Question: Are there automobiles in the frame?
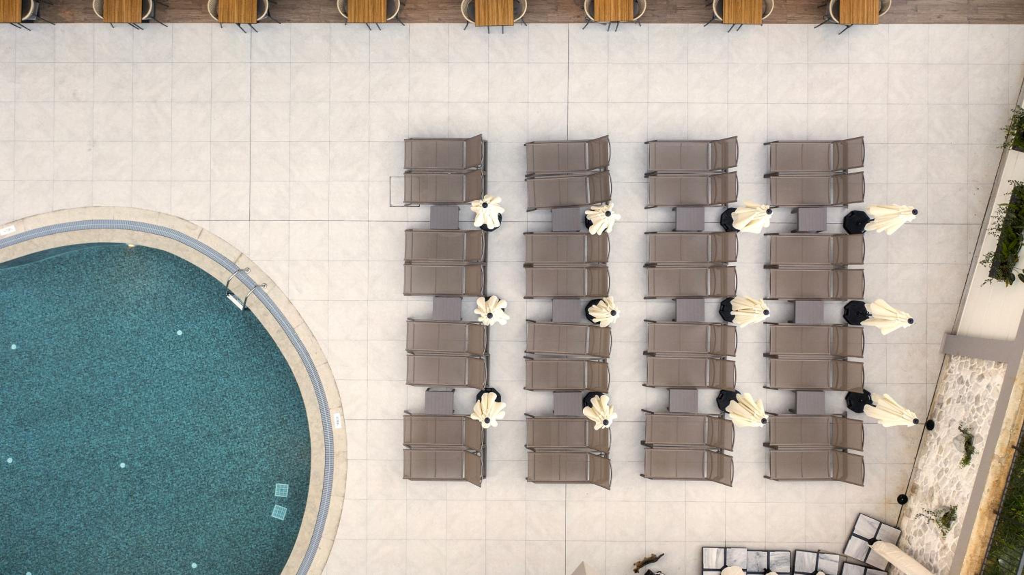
No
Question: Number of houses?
0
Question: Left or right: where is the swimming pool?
left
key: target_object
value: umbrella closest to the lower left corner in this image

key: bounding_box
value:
[470,388,504,426]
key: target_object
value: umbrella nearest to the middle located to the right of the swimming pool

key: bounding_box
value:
[474,294,510,327]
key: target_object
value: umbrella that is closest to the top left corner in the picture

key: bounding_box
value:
[470,197,506,231]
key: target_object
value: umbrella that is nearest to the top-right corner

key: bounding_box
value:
[842,200,917,234]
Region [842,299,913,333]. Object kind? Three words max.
umbrella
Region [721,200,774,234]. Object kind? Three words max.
umbrella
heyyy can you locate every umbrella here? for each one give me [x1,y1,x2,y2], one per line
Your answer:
[583,202,618,235]
[716,390,768,428]
[842,200,917,234]
[719,293,771,329]
[842,299,913,333]
[470,197,506,231]
[585,292,620,331]
[846,391,919,426]
[580,392,618,429]
[721,200,774,234]
[470,388,504,426]
[474,294,510,327]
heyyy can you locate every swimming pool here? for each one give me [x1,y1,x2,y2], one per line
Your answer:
[0,243,311,575]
